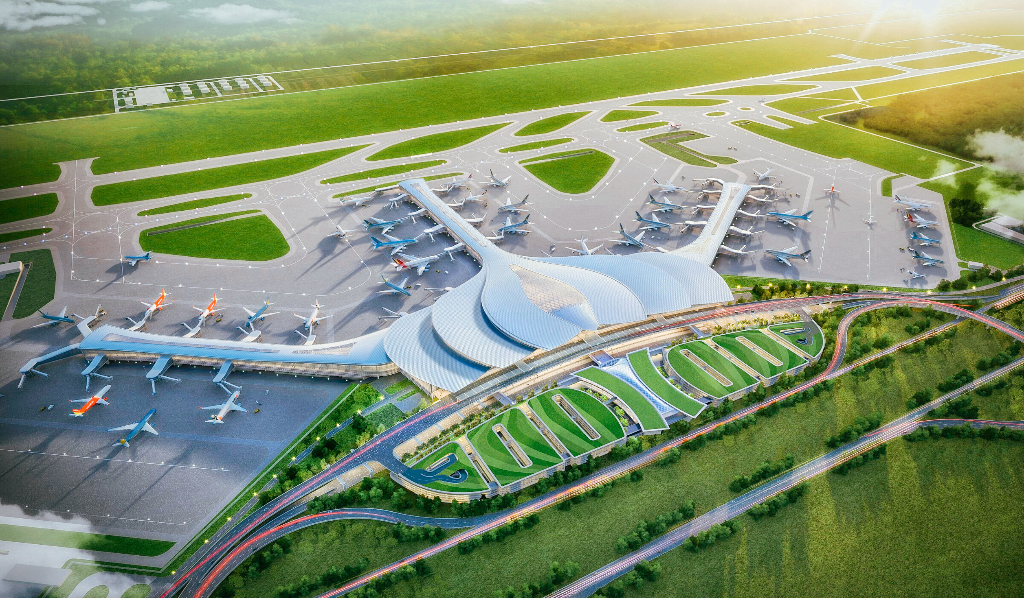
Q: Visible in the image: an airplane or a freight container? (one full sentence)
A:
The image shows an airplane.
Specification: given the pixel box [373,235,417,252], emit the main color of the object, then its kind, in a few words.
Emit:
blue airplane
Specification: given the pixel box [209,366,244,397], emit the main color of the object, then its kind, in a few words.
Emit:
blue jet bridge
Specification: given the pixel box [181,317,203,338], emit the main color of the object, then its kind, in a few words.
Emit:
white jet bridge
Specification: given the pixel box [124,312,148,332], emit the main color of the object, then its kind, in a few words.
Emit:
white jet bridge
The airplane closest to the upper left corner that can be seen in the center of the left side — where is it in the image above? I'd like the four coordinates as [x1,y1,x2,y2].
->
[125,253,152,265]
